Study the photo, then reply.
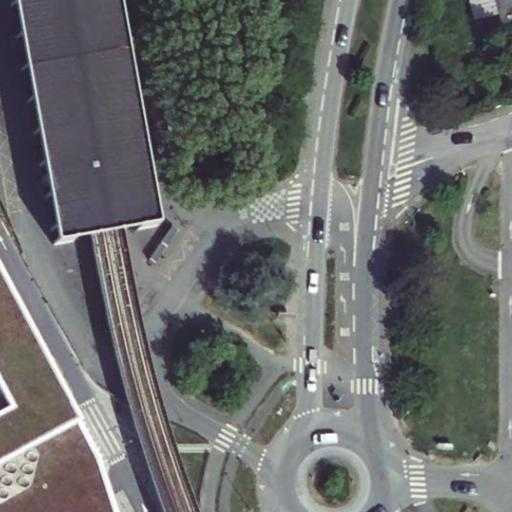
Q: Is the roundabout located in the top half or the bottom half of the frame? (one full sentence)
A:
The bottom half of the photo is where the roundabout is.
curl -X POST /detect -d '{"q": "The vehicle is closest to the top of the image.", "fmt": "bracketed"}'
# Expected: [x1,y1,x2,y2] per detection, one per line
[336,25,348,47]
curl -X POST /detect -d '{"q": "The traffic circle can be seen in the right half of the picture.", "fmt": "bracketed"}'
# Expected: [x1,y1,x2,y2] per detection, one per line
[260,409,408,512]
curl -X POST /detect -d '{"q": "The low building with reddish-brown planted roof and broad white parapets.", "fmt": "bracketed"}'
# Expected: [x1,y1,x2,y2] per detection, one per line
[0,256,118,512]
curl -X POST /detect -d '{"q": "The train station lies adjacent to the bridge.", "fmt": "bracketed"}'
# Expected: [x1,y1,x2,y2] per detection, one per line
[16,0,163,246]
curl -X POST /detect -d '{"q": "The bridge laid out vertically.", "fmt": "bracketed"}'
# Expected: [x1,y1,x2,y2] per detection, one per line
[90,227,198,512]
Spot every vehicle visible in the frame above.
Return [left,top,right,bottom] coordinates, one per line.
[314,433,339,444]
[308,348,318,367]
[336,25,348,47]
[308,272,320,293]
[370,504,388,512]
[314,220,324,242]
[377,84,388,106]
[452,132,472,144]
[306,369,317,392]
[451,482,475,494]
